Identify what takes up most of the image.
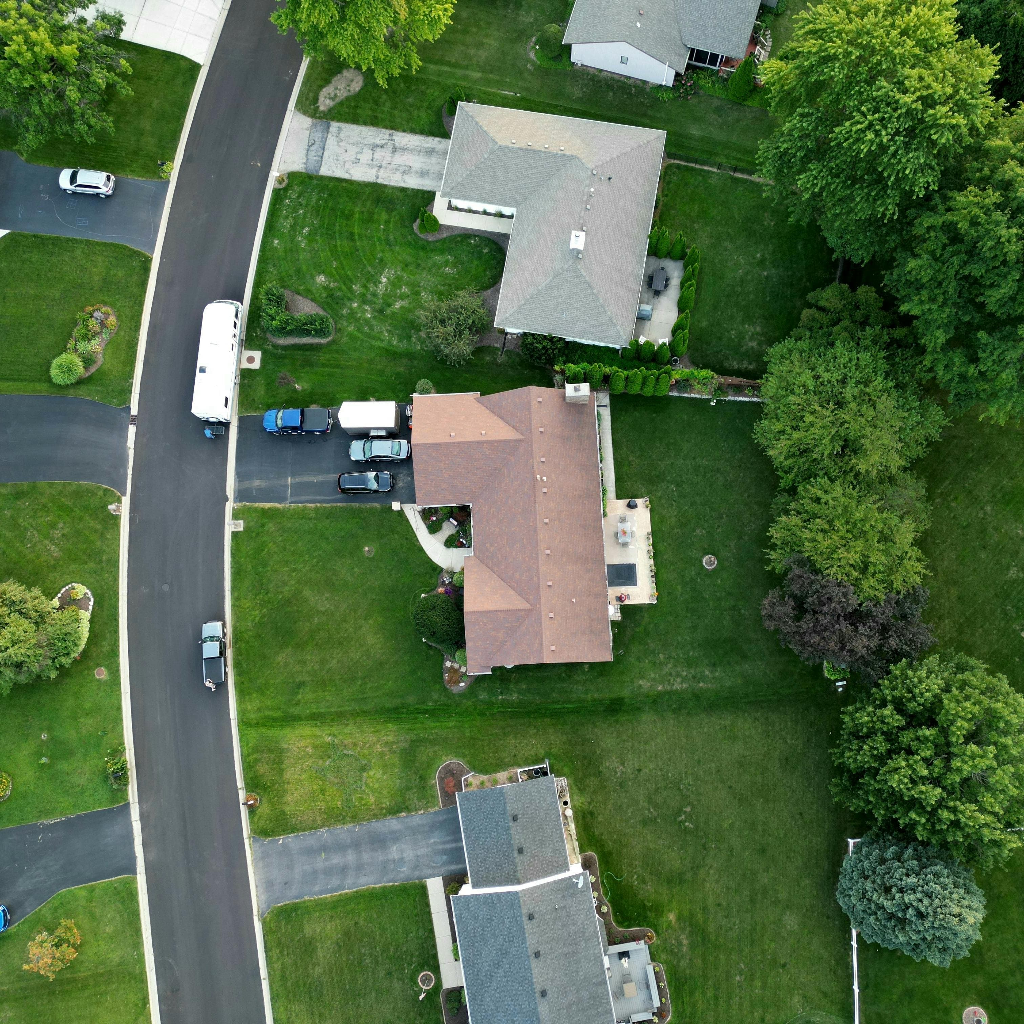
grass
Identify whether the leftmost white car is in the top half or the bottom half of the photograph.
top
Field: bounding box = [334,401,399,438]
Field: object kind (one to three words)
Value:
trailer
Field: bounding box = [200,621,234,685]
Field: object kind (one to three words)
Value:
truck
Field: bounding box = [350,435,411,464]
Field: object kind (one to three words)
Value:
car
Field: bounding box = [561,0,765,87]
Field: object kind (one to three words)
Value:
house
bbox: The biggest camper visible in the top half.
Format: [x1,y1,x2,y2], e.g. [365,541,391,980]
[189,300,243,437]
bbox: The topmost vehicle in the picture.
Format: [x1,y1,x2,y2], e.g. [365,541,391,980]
[60,168,120,202]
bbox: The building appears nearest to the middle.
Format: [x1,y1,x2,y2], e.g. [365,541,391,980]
[411,383,615,677]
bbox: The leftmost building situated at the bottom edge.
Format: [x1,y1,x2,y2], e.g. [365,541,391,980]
[448,774,617,1024]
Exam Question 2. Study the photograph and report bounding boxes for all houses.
[448,774,617,1024]
[561,0,765,87]
[438,100,668,354]
[411,383,615,677]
